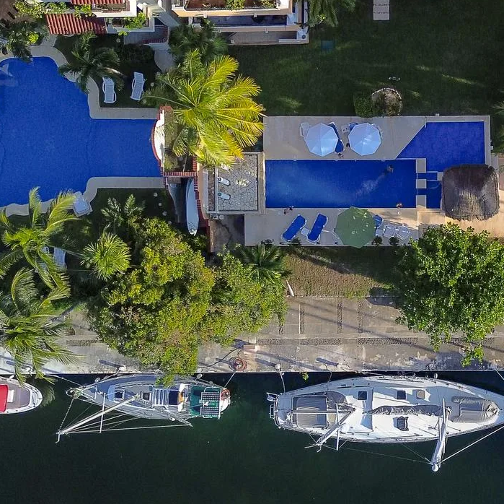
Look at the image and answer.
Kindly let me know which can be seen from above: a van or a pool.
pool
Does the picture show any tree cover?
Yes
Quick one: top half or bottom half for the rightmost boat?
bottom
